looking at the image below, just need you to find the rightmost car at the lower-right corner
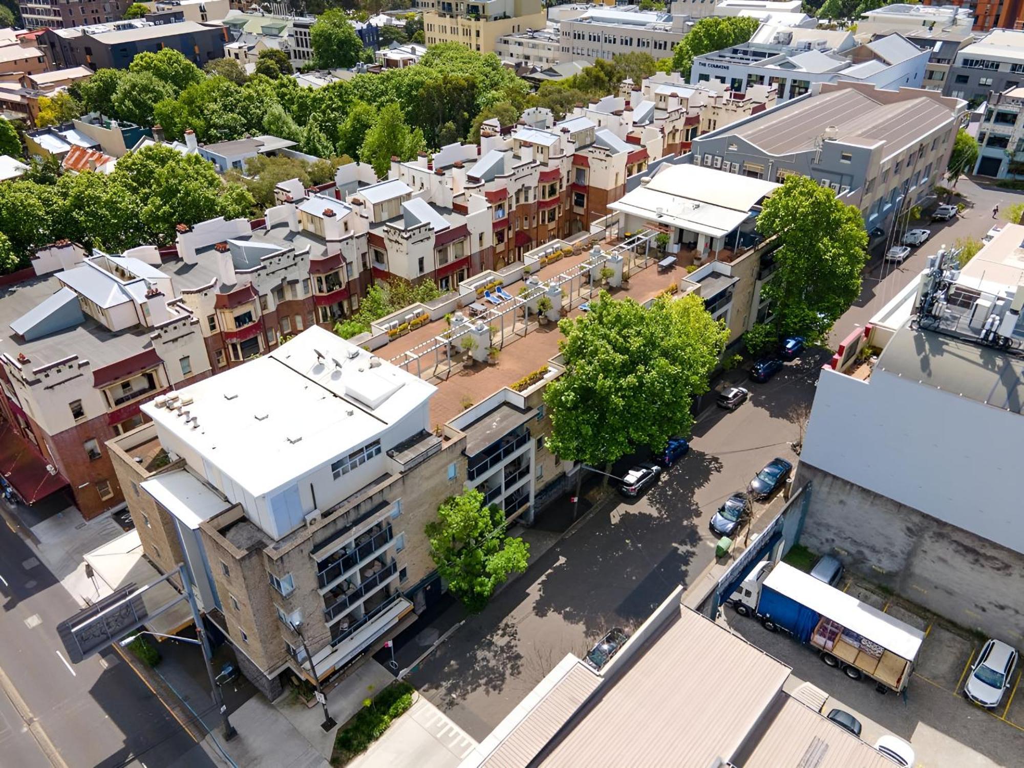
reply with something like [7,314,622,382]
[966,636,1024,709]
